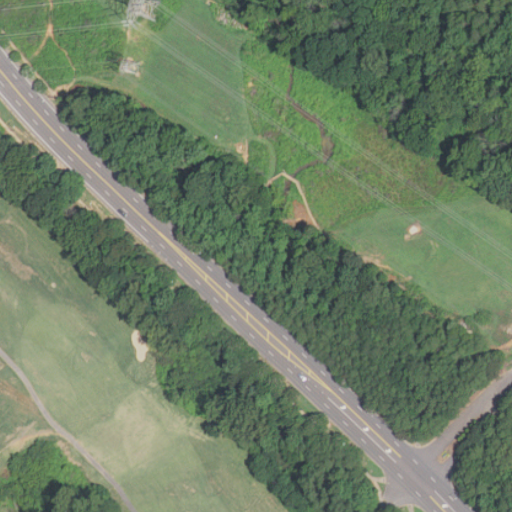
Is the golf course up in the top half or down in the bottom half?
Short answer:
bottom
